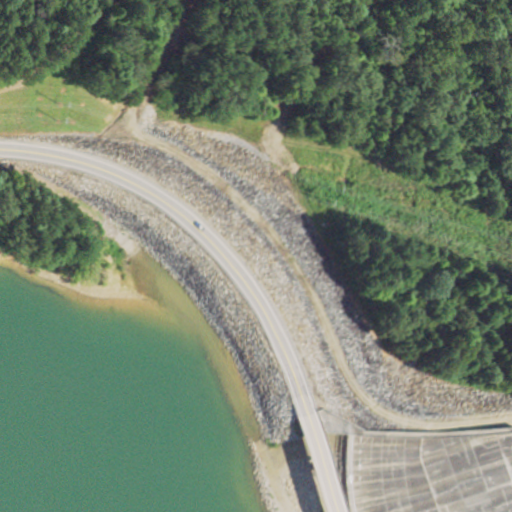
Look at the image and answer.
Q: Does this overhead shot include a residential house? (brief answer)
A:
No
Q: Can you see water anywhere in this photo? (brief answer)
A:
Yes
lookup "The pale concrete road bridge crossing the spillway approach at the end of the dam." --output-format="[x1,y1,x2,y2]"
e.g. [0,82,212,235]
[306,427,350,512]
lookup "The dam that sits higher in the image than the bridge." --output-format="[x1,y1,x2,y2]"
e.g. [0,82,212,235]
[0,122,512,444]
